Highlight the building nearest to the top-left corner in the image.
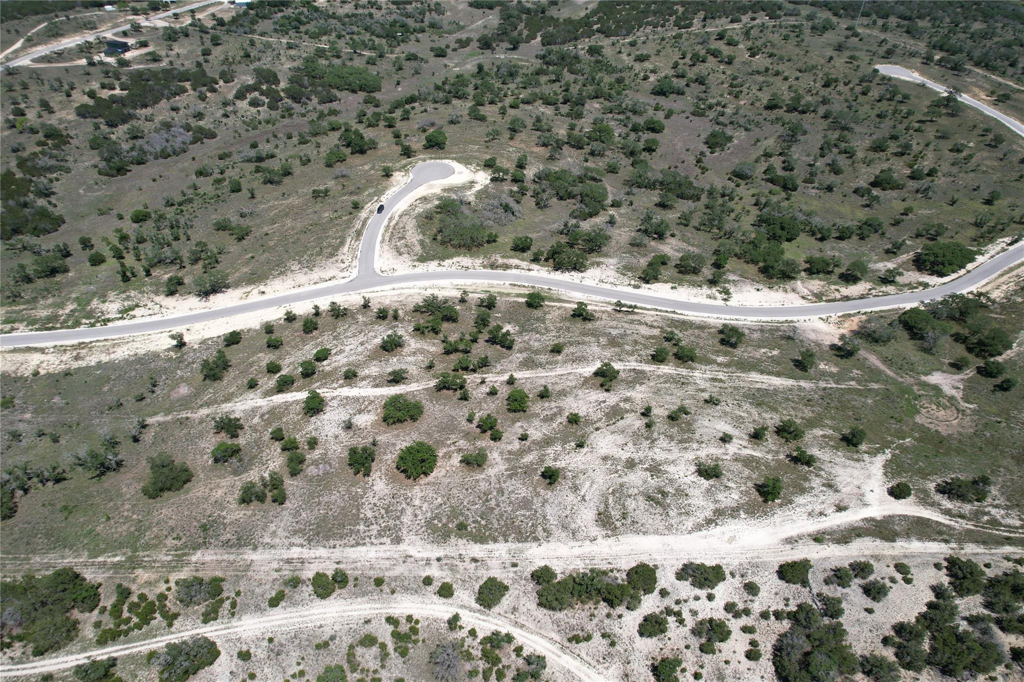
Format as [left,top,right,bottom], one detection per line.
[96,36,133,52]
